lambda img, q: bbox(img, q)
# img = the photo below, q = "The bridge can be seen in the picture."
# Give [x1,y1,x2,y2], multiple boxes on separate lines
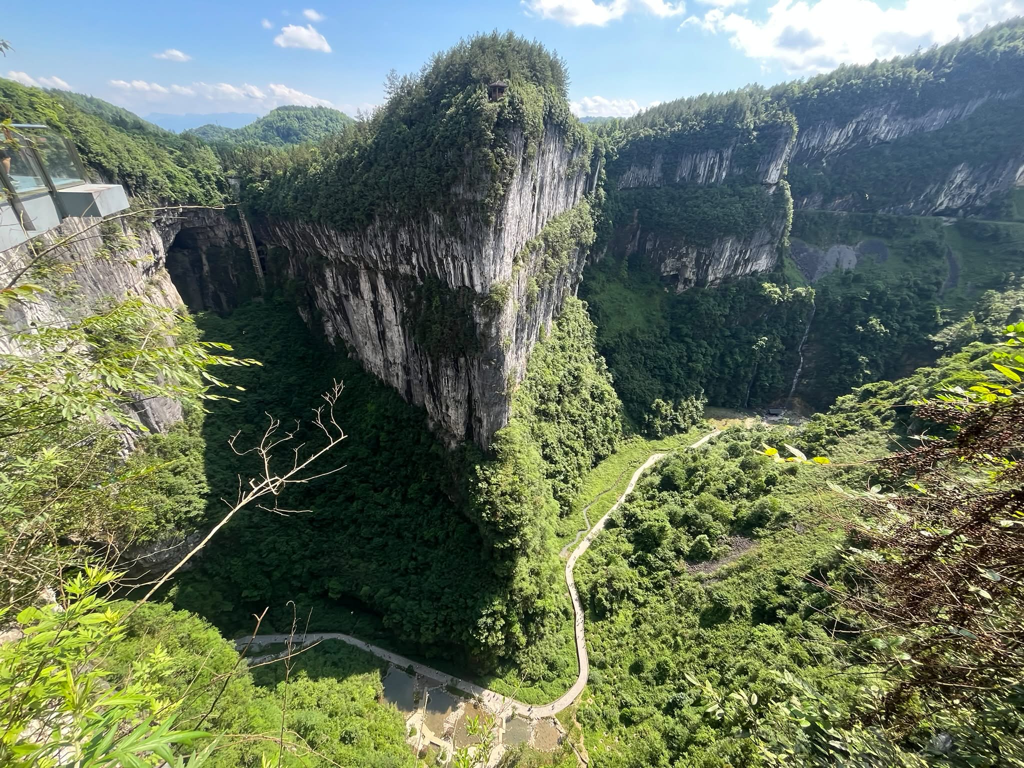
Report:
[156,161,305,326]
